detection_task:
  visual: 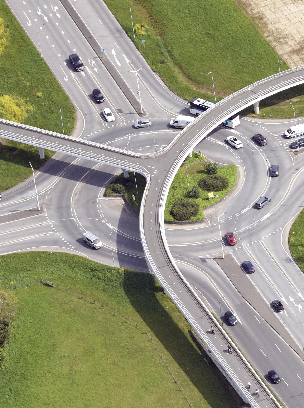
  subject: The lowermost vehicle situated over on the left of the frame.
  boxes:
[83,231,102,248]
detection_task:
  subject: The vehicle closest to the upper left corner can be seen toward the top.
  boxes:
[70,52,84,70]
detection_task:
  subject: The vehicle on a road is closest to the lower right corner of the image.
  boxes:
[266,369,281,384]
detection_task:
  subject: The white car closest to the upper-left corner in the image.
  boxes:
[102,108,115,121]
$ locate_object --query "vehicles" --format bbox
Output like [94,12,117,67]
[291,137,304,149]
[253,195,274,208]
[170,113,199,130]
[241,259,256,274]
[225,232,236,246]
[252,133,270,146]
[284,123,304,139]
[83,231,102,248]
[102,108,115,121]
[225,135,244,149]
[224,310,237,325]
[91,86,105,102]
[270,164,280,177]
[133,118,152,129]
[266,369,281,384]
[189,96,239,128]
[70,52,84,70]
[271,299,285,313]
